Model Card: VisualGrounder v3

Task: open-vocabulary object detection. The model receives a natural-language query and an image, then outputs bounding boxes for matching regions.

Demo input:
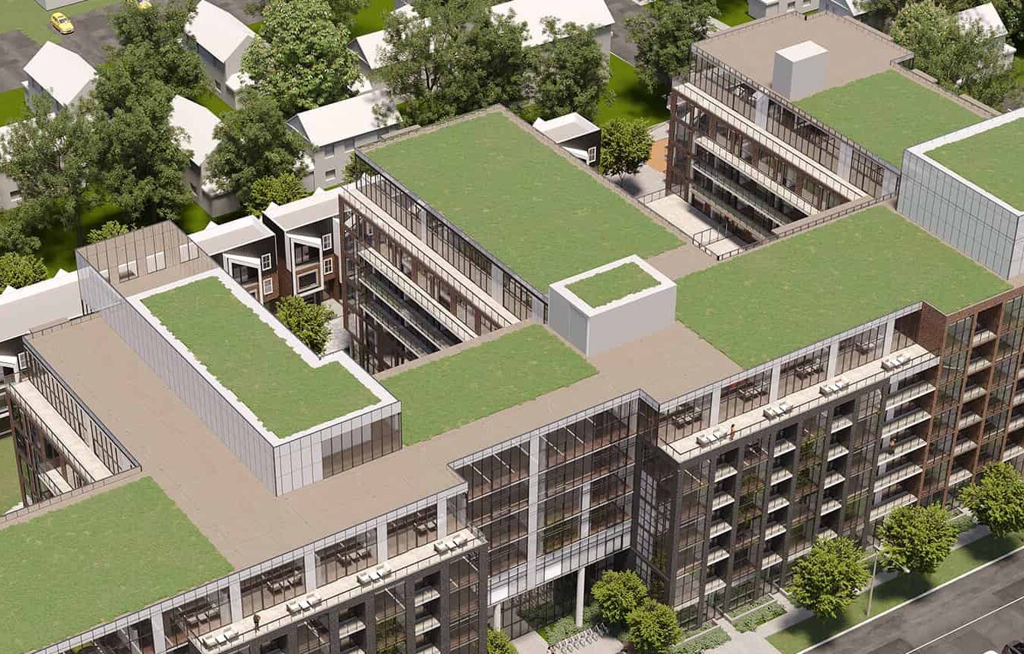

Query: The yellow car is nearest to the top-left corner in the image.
[49,13,74,33]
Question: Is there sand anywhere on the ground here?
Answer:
No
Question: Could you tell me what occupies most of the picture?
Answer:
buildings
